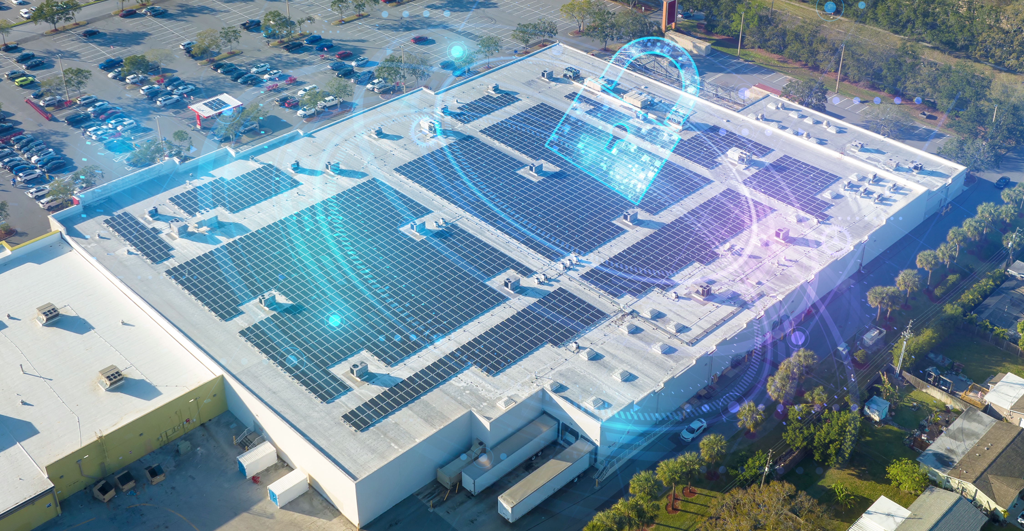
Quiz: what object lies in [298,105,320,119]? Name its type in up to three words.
car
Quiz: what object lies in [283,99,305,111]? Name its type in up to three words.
vehicle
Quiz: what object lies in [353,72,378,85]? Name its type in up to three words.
vehicle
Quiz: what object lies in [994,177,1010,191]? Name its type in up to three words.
car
